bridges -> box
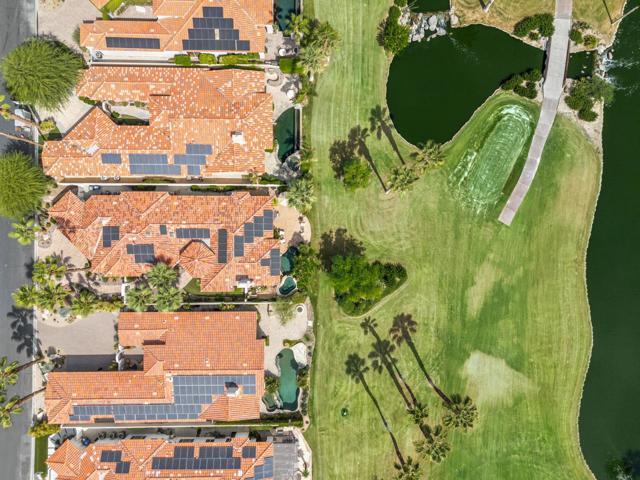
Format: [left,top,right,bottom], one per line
[544,18,574,100]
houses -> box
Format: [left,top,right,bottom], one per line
[25,189,281,338]
[75,0,275,56]
[12,62,274,176]
[44,311,264,444]
[42,433,274,480]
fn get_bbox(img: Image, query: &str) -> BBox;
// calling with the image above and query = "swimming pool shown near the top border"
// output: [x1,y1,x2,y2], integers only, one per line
[274,0,298,32]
